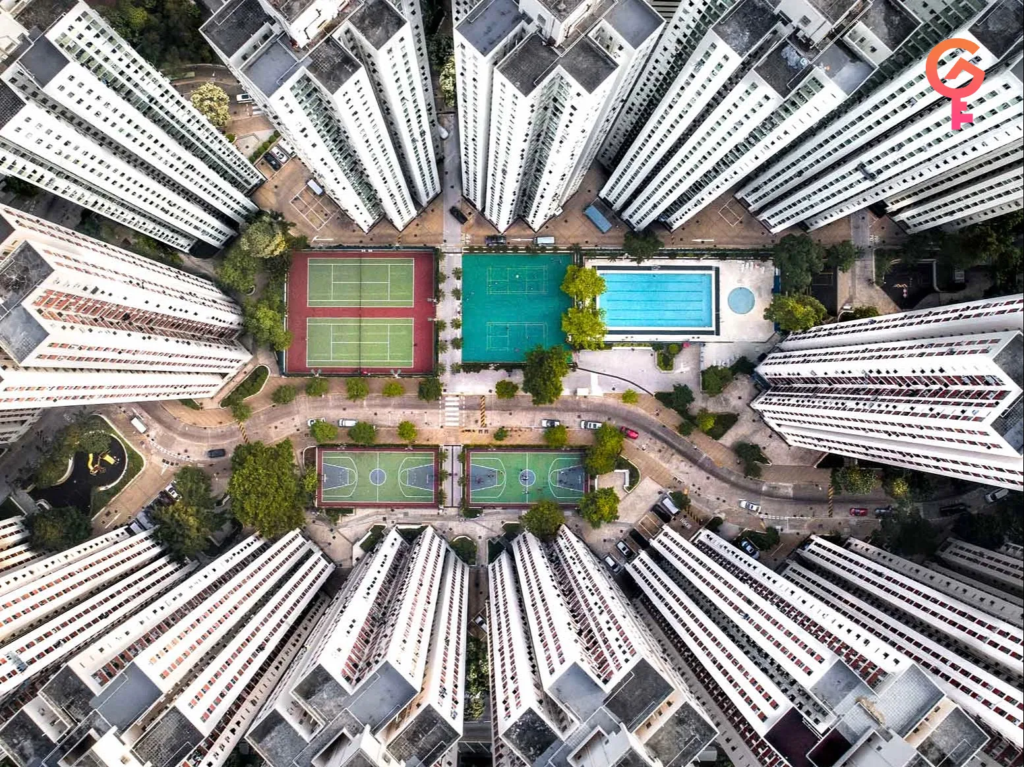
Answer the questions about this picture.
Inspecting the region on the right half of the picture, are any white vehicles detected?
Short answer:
Yes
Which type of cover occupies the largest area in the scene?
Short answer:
buildings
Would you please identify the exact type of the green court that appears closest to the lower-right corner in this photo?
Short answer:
basketball court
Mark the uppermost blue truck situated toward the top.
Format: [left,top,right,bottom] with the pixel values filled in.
[584,206,615,233]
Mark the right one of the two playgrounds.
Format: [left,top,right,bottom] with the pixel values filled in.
[879,260,937,310]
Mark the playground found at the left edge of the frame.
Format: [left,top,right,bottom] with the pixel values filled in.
[32,436,124,513]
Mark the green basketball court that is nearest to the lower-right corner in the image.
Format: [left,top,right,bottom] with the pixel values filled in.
[466,448,588,508]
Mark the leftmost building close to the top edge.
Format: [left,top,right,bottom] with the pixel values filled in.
[0,0,266,251]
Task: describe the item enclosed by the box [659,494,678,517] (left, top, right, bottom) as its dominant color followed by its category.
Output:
white vehicle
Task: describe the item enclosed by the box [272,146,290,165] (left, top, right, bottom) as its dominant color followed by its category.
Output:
white car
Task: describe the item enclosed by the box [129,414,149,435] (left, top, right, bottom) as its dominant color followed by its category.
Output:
white vehicle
